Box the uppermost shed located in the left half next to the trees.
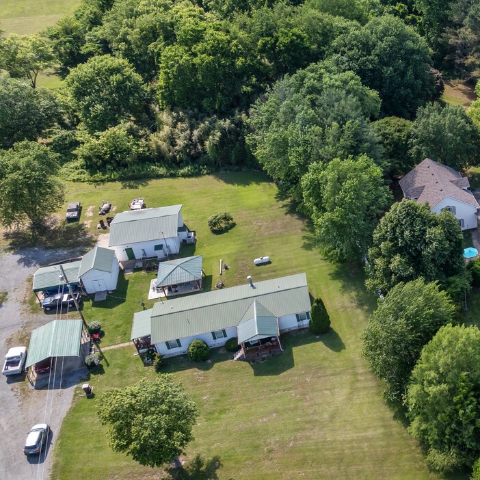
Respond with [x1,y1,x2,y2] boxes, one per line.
[108,204,192,273]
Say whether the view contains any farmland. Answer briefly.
No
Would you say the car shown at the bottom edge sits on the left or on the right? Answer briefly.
left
